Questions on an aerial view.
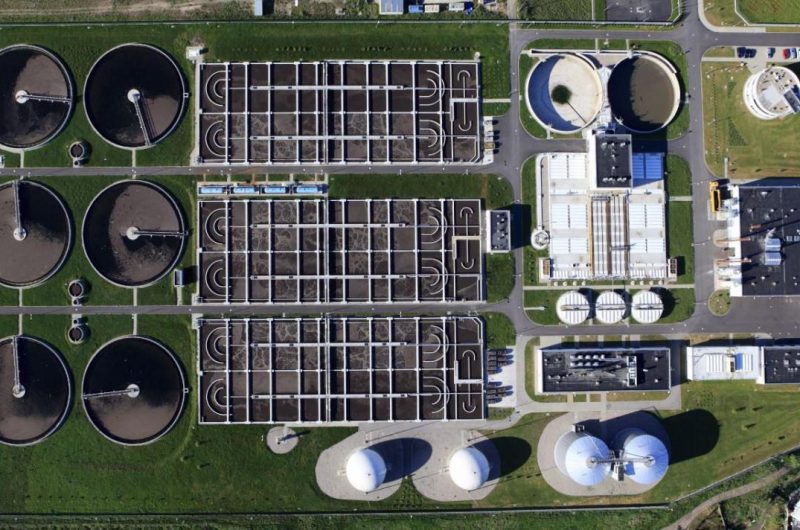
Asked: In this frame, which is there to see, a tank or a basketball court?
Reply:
tank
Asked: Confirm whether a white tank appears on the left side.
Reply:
No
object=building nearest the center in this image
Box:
[488,210,511,252]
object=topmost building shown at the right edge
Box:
[742,68,800,120]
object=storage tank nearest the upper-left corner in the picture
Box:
[0,45,73,150]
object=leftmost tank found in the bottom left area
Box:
[0,337,71,445]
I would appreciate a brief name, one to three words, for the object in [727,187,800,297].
building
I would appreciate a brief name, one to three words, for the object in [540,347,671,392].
building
